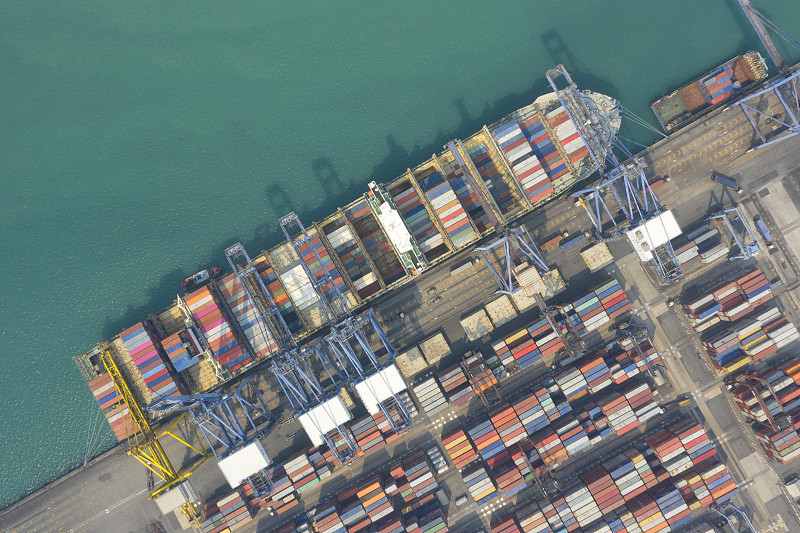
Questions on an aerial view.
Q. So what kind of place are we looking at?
port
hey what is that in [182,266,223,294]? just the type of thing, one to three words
boat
